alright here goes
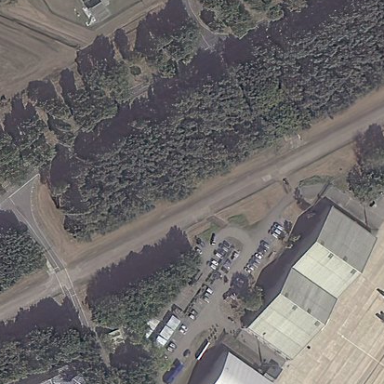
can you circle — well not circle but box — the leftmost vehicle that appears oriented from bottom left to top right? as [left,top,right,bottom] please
[166,361,183,382]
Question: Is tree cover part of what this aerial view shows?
Yes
